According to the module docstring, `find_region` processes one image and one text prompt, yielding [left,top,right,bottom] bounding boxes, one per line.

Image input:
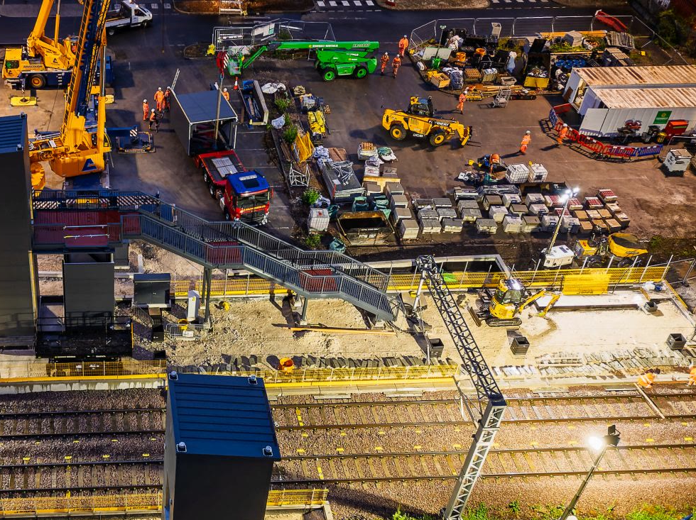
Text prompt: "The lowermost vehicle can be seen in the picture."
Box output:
[463,274,560,323]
